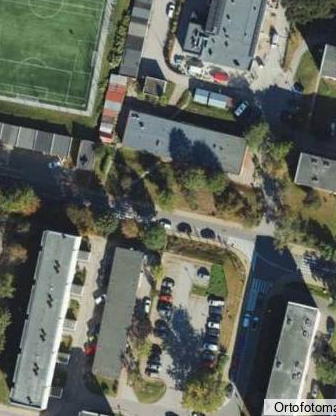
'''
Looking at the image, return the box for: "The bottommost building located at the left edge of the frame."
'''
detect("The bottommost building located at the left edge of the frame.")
[14,231,88,409]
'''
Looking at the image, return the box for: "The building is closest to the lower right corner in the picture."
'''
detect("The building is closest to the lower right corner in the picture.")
[263,303,320,416]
